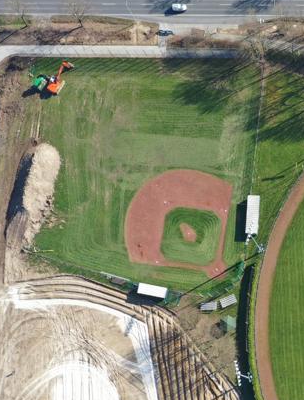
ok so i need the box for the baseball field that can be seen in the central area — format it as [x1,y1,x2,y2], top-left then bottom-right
[29,59,261,308]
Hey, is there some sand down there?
Yes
